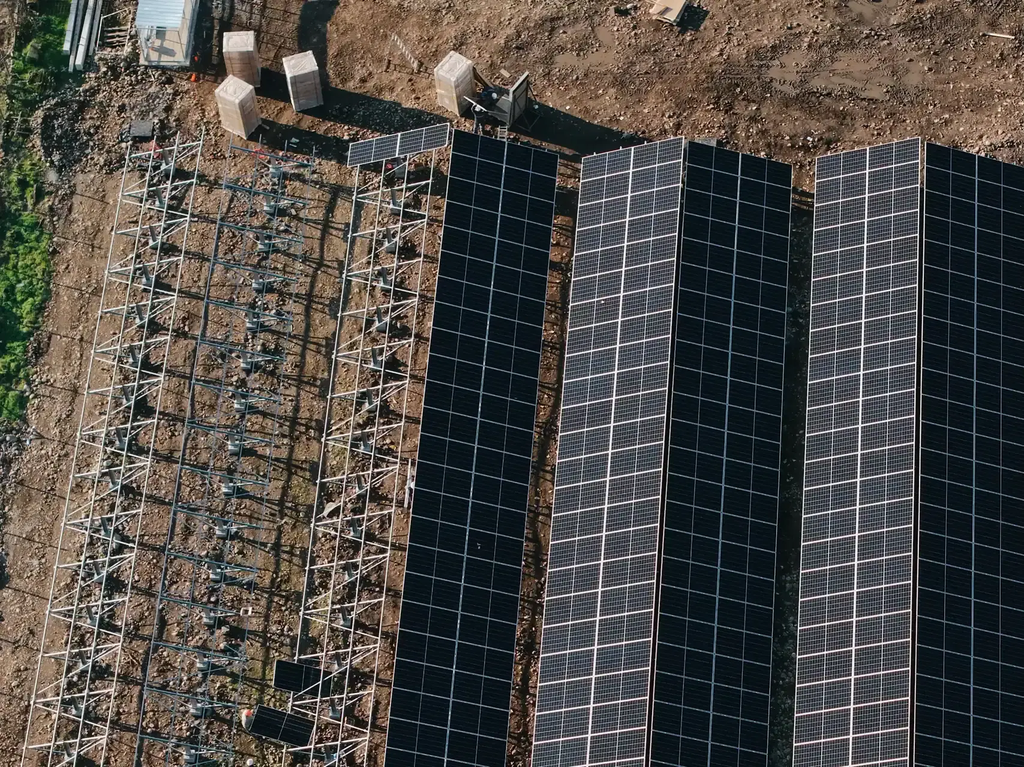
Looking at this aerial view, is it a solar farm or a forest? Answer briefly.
solar farm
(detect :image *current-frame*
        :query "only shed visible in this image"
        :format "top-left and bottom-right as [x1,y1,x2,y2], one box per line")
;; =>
[127,0,208,69]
